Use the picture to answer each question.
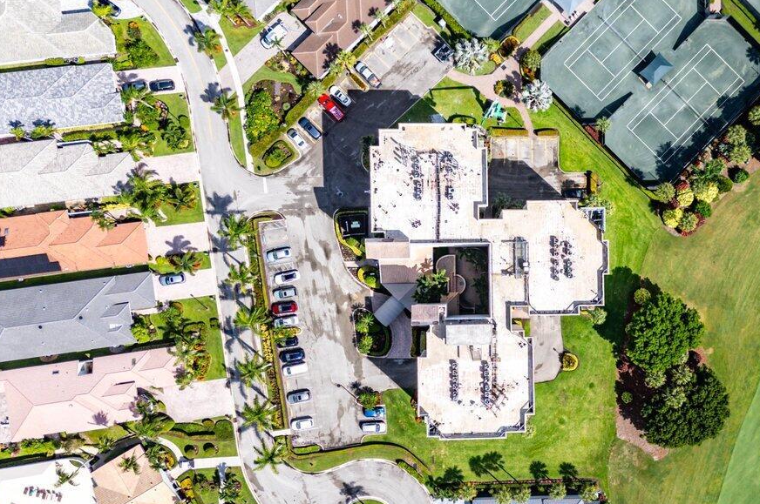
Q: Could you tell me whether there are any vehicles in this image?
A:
Yes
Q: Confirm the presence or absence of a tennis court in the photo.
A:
Yes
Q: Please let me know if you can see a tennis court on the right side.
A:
Yes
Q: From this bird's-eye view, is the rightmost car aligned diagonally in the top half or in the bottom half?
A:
top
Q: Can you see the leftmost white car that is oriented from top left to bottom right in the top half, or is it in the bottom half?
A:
top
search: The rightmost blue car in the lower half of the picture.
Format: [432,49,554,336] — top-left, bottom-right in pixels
[363,405,387,418]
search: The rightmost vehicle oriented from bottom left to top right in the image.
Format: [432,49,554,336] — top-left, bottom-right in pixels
[433,42,453,63]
